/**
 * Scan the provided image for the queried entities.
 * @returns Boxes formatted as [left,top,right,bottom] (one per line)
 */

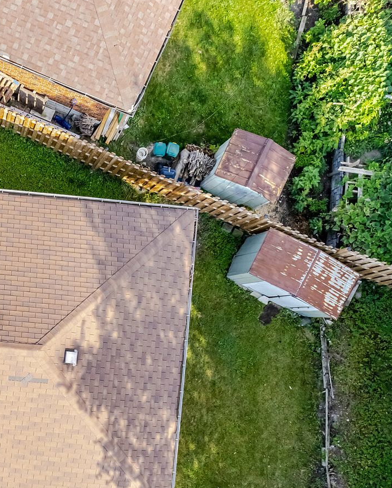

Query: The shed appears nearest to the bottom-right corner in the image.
[231,228,362,320]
